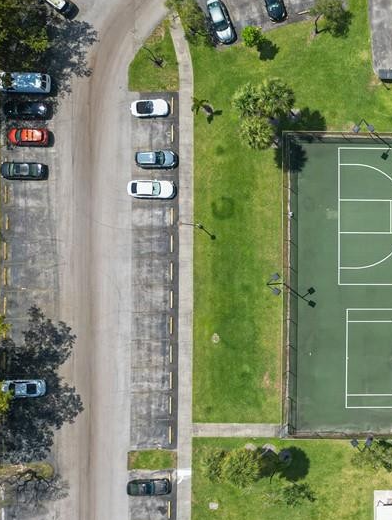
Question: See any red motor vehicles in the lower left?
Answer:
No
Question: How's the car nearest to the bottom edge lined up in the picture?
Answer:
from left to right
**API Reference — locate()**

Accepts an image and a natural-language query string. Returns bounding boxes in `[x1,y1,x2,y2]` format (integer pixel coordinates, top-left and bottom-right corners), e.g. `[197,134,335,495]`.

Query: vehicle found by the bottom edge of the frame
[127,477,173,498]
